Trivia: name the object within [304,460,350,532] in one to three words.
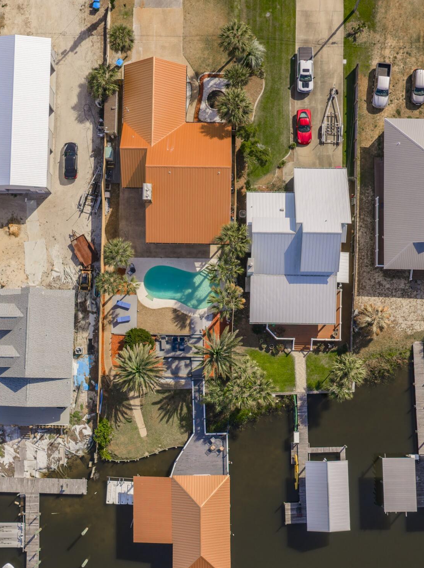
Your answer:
building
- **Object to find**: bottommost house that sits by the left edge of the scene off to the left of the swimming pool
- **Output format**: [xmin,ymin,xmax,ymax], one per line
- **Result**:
[0,287,76,437]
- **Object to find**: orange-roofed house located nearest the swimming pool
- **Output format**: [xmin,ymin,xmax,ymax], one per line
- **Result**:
[120,56,232,245]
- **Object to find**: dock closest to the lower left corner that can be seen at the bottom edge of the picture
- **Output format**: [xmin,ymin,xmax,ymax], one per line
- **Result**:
[0,523,24,548]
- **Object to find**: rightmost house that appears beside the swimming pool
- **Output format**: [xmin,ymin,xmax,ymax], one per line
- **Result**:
[243,167,351,352]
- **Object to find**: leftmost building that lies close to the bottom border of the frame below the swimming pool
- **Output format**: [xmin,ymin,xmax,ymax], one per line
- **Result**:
[133,474,231,568]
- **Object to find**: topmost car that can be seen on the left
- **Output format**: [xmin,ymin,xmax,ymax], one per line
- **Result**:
[62,143,80,180]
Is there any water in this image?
Yes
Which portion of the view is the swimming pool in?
center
